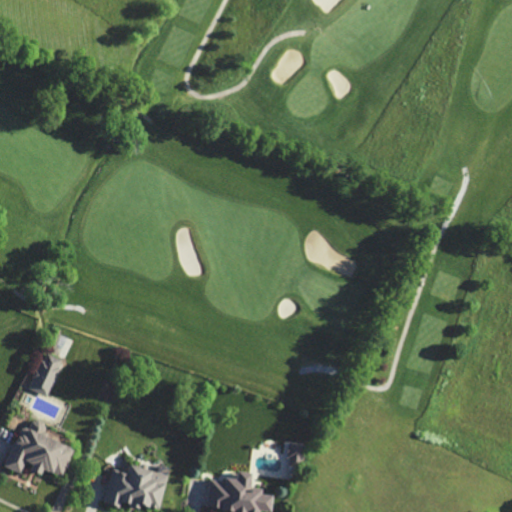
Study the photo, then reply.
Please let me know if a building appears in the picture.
Yes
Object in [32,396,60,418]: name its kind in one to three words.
swimming pool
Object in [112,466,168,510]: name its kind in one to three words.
house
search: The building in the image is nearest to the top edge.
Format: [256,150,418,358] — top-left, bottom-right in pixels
[26,359,66,396]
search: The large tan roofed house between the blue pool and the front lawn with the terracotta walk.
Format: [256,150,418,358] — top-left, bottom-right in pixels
[4,432,74,477]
